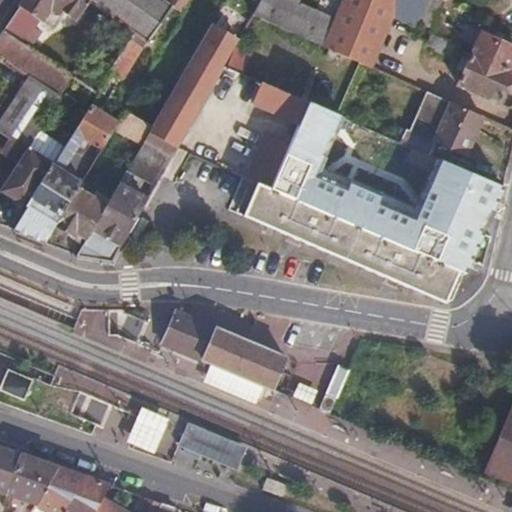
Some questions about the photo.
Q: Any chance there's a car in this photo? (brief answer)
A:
Yes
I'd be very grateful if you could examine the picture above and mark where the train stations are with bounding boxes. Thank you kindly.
[202,326,287,391]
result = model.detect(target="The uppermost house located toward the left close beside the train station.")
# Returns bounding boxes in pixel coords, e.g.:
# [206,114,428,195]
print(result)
[160,308,200,362]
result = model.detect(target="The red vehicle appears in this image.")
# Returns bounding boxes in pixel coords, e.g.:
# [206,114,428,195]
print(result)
[286,256,298,278]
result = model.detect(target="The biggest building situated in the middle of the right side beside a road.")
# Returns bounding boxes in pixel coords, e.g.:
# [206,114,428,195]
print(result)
[248,102,505,303]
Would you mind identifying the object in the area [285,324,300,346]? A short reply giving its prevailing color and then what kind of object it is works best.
white car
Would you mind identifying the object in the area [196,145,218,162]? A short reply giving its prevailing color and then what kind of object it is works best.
white car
